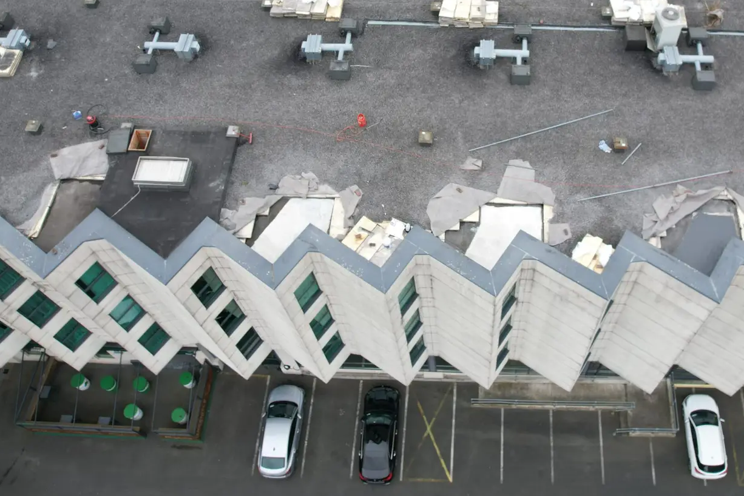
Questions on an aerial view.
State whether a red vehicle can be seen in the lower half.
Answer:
No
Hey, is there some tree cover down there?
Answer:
No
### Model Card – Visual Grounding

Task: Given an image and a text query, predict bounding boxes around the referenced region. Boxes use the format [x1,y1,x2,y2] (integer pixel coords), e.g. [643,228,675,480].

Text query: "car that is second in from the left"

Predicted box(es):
[357,386,402,490]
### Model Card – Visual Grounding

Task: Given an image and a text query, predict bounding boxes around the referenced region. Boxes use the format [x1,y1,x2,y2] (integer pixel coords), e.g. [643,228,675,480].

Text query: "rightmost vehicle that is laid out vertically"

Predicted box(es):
[679,394,727,487]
